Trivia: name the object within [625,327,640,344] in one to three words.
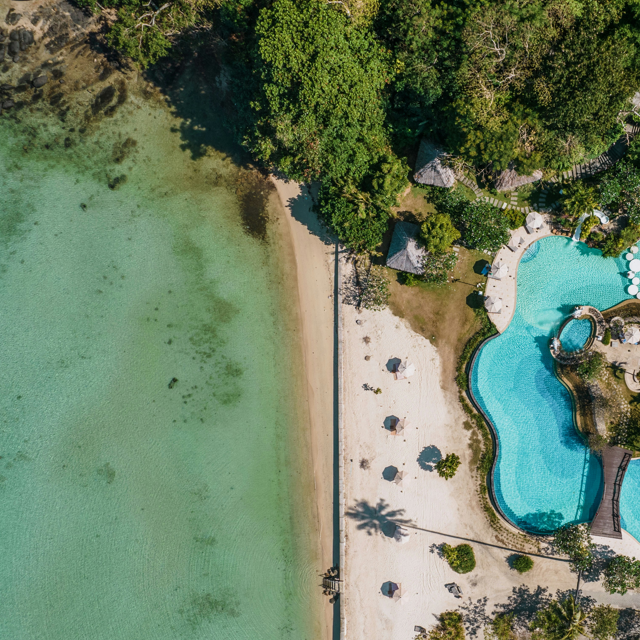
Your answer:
umbrella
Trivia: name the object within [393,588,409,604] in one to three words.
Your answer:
umbrella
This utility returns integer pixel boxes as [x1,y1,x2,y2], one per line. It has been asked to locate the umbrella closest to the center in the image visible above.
[397,360,414,377]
